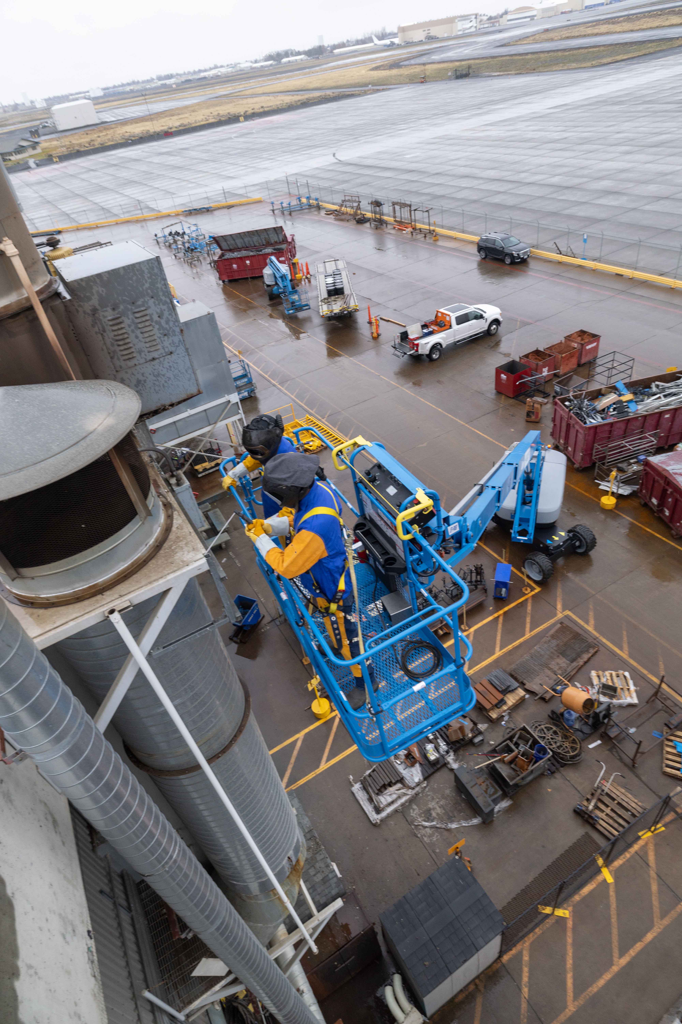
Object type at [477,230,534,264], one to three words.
car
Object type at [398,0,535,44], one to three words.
hangar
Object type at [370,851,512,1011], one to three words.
shed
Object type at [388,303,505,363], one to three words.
truck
